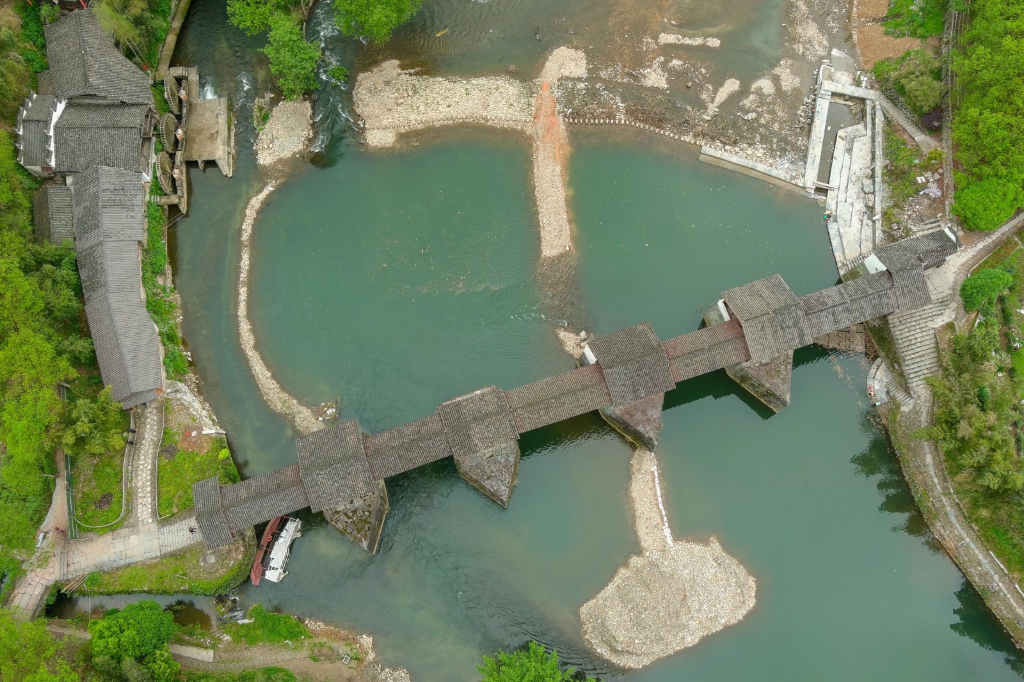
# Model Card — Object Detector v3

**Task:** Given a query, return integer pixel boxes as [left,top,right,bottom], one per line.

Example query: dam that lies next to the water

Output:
[698,146,825,208]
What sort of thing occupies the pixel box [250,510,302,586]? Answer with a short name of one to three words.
boat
